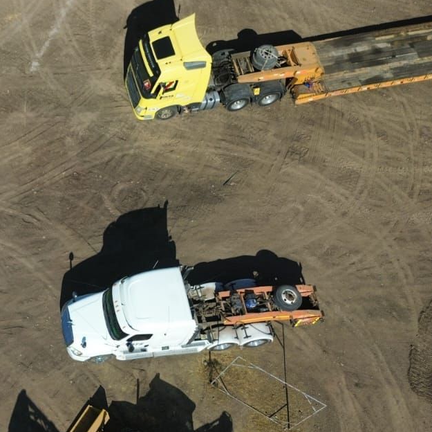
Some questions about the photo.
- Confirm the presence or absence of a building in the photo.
No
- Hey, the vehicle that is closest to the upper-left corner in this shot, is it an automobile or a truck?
truck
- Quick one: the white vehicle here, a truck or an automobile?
truck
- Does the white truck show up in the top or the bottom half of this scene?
bottom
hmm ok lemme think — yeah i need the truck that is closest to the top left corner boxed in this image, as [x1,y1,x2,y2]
[121,18,286,120]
